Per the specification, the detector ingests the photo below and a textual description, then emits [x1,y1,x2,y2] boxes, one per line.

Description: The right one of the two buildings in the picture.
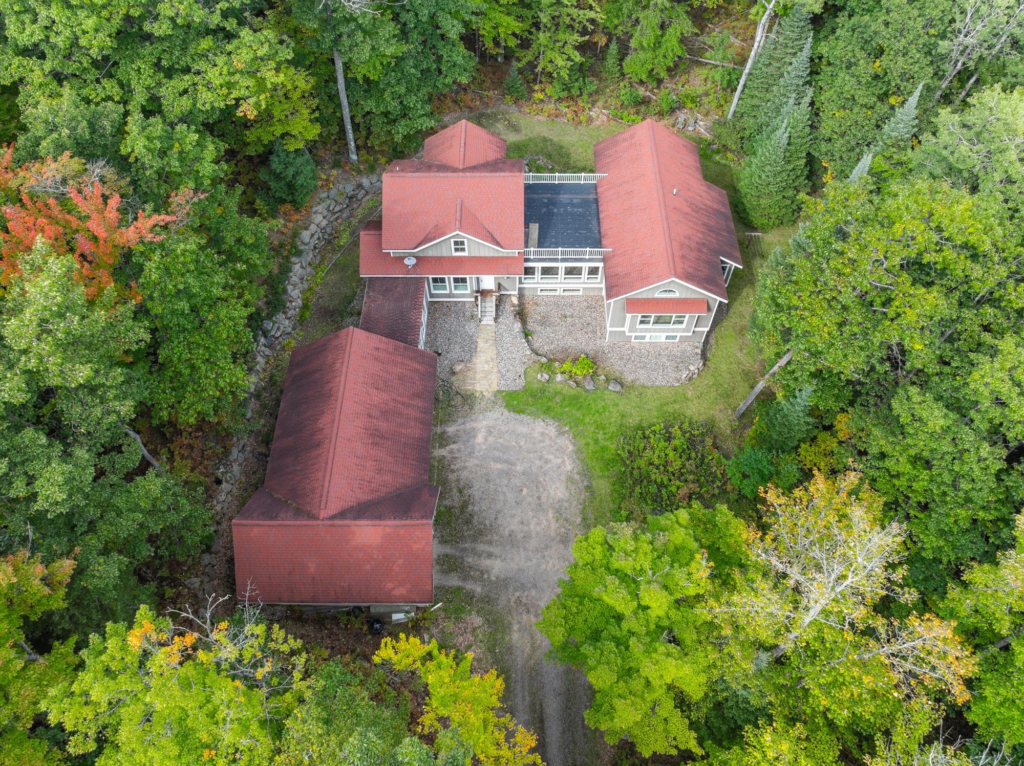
[359,119,743,350]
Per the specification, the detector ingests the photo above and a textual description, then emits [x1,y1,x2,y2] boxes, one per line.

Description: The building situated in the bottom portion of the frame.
[232,326,441,610]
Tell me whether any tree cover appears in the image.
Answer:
Yes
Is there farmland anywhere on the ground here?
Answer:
No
